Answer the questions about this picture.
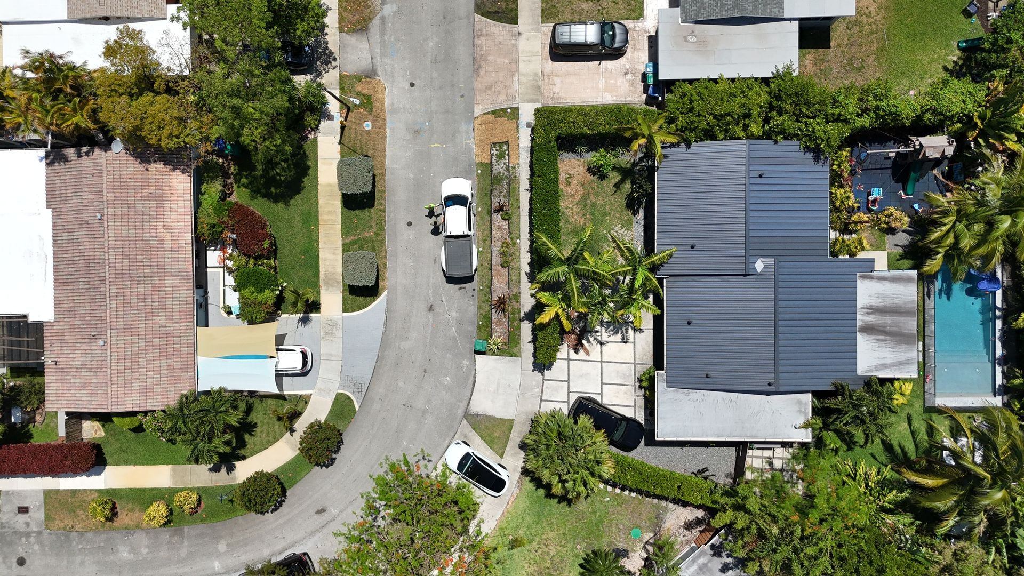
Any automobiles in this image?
Yes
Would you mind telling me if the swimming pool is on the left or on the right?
right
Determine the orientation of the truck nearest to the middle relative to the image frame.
up and down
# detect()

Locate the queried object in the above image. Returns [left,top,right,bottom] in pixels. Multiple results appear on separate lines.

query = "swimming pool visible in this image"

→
[926,255,1010,410]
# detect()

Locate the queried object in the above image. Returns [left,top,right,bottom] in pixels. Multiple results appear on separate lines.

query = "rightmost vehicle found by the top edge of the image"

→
[549,15,631,56]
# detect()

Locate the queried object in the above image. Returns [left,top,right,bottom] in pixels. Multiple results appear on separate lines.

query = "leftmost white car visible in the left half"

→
[274,345,315,375]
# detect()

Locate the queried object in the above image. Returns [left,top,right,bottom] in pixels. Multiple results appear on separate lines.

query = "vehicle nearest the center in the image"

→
[437,179,480,276]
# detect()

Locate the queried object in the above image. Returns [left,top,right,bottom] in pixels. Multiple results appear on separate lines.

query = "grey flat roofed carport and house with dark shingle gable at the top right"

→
[657,0,855,83]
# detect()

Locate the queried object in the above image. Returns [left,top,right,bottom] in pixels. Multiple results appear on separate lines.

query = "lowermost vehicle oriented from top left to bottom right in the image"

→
[441,439,516,500]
